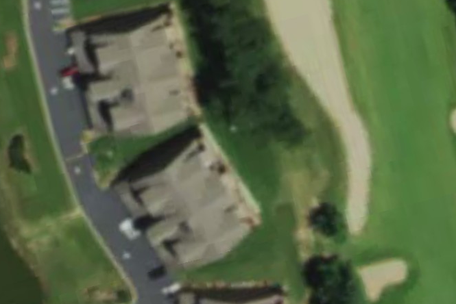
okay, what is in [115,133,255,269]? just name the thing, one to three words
building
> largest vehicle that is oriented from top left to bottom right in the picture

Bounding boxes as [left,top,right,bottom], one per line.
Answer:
[121,218,137,241]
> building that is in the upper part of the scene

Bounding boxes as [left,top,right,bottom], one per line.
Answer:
[67,1,198,133]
